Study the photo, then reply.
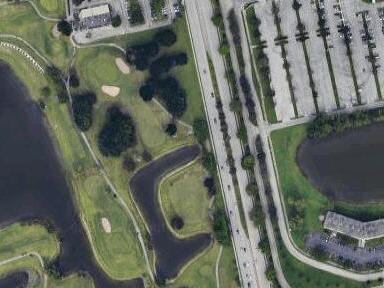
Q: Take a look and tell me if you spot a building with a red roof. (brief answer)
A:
No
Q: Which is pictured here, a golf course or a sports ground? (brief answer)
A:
golf course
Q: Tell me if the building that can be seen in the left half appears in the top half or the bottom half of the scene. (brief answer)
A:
top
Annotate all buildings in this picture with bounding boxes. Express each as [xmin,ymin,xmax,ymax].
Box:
[323,211,384,245]
[79,4,111,29]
